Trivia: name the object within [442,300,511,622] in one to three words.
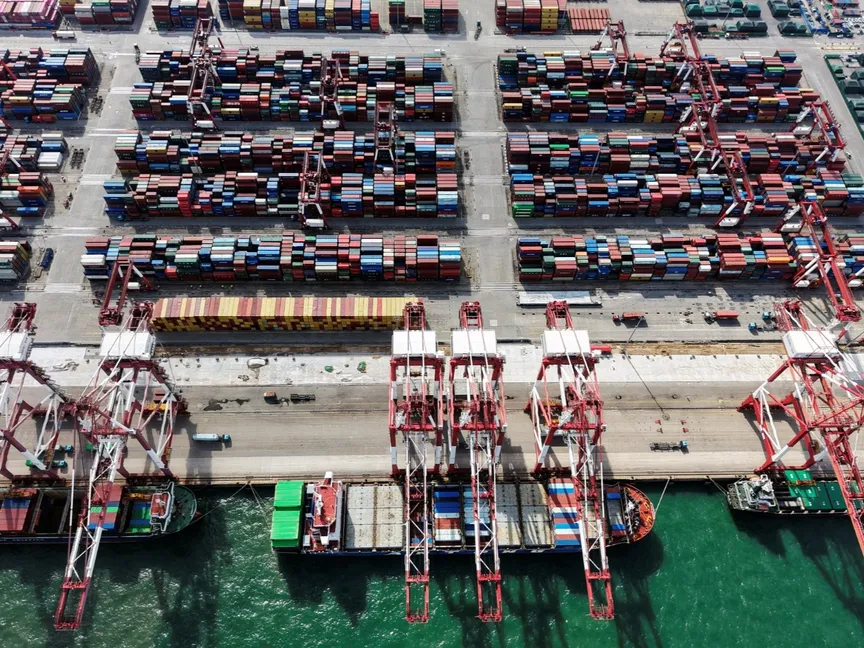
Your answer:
container crane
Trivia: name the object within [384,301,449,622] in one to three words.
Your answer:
container crane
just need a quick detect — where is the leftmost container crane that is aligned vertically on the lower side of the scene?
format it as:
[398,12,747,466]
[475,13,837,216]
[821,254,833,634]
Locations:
[0,302,83,494]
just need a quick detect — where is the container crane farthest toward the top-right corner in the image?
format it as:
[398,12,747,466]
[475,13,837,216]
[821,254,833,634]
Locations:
[788,106,852,181]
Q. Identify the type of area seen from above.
port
